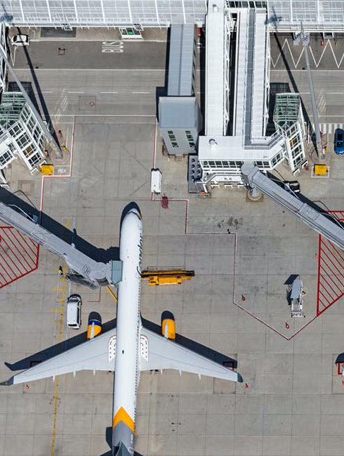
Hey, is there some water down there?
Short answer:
No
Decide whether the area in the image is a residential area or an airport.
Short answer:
airport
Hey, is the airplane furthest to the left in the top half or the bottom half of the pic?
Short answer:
bottom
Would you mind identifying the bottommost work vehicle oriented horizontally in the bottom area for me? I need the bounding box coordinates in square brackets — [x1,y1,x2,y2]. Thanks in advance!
[139,271,195,285]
